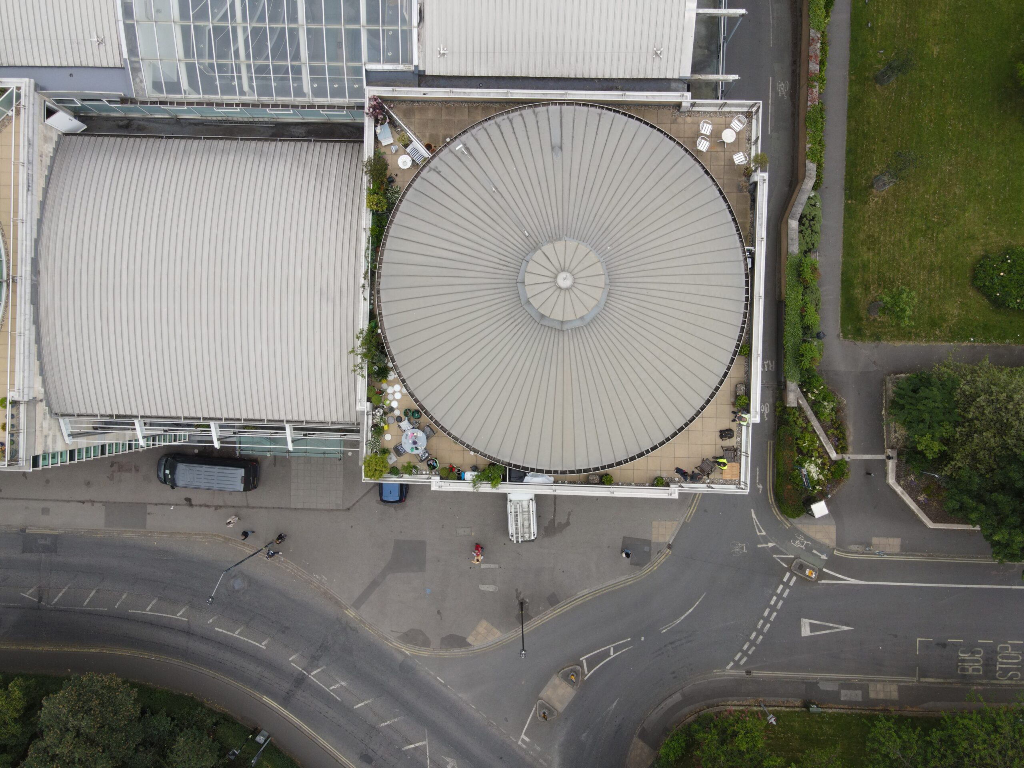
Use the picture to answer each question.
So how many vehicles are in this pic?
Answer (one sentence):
There are 3 vehicles in the image.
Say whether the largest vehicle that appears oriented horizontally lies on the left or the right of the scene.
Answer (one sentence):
The largest vehicle that appears oriented horizontally is on the left side of the image.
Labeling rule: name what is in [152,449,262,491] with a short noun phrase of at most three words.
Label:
vehicle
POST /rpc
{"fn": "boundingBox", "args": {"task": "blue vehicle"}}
[378,483,409,506]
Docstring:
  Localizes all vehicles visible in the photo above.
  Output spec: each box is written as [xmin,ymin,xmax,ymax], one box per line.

[504,493,539,546]
[152,449,262,491]
[378,483,409,506]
